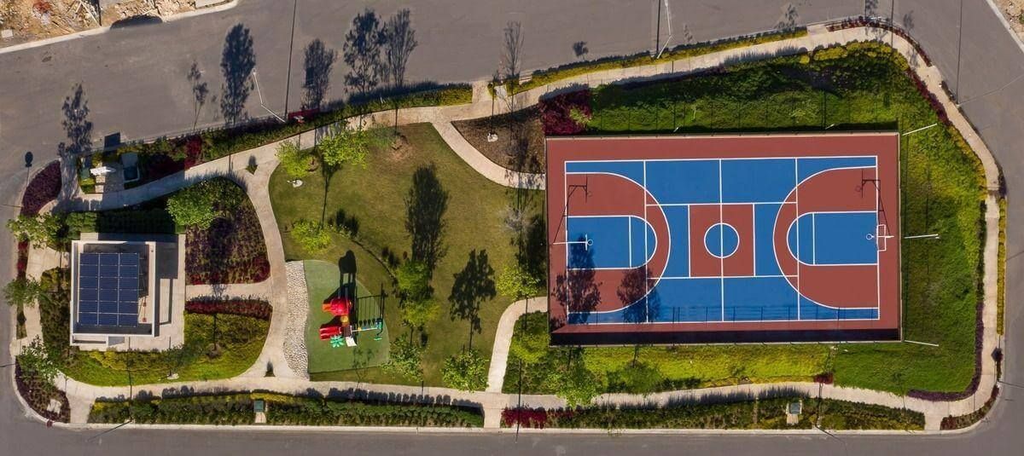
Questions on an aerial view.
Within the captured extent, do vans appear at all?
No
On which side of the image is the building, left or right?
left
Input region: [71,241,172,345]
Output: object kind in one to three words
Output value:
building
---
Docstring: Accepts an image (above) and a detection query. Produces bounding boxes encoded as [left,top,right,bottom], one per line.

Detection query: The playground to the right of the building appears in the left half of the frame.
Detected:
[318,298,384,349]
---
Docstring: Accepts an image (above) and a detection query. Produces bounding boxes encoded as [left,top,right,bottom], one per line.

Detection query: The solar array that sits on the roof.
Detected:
[78,253,146,326]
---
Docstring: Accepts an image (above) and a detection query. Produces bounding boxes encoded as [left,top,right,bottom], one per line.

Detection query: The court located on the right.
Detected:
[548,135,900,346]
